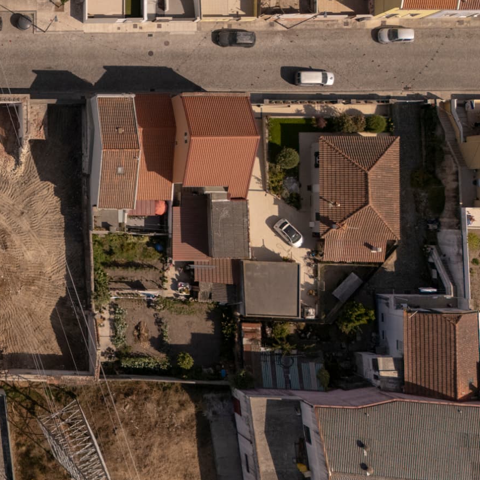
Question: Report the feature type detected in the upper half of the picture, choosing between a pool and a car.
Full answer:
You can see a car in the upper half of the picture.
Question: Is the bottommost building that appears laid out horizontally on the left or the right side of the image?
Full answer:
The bottommost building that appears laid out horizontally appears in the right half of the scene.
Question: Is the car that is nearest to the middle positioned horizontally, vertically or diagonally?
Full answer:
What the image shows is the car that is nearest to the middle lying diagonally.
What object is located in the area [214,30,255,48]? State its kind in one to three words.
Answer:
car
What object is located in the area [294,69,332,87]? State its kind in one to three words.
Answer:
car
